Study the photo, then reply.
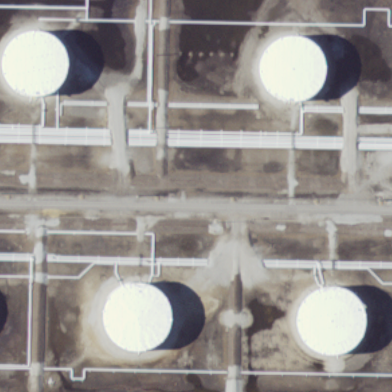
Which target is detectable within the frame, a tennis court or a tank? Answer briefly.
tank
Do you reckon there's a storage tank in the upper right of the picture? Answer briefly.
Yes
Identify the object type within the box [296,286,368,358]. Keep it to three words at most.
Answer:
storage tank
